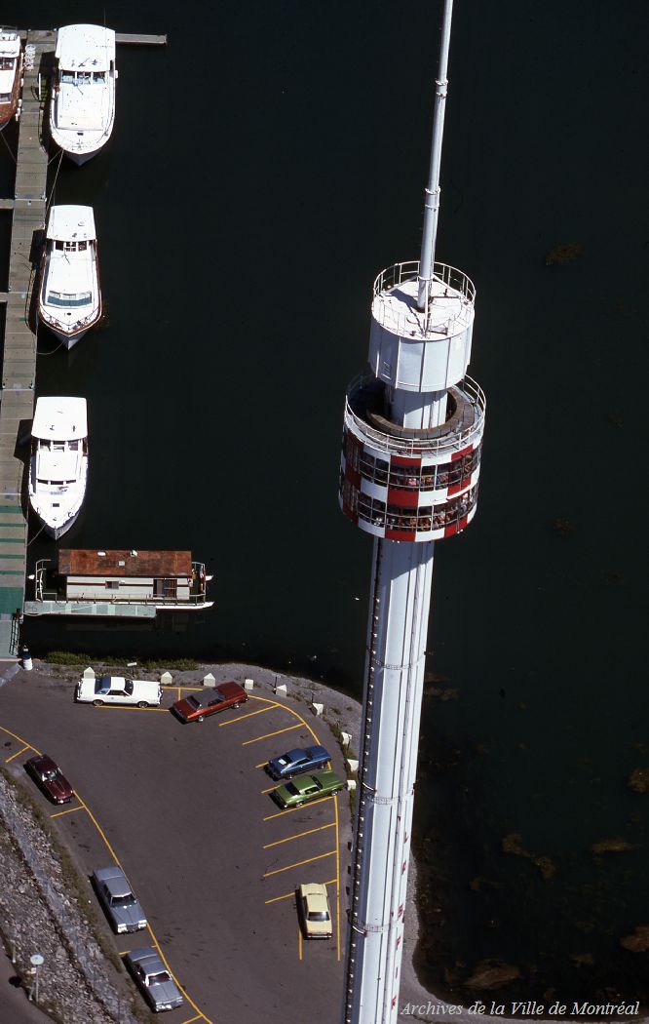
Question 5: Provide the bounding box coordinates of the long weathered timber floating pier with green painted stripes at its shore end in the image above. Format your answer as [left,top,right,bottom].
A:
[0,32,163,629]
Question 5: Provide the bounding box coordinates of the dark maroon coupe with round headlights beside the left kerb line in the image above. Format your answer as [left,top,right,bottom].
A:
[26,755,76,807]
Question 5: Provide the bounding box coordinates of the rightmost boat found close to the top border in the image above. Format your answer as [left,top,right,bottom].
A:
[48,4,118,166]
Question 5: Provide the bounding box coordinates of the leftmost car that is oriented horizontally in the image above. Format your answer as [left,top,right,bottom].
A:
[76,676,164,707]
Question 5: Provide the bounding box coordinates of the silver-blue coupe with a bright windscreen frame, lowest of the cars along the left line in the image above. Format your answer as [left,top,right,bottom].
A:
[128,948,181,1012]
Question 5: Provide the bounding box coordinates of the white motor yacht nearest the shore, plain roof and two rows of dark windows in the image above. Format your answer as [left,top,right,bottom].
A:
[26,398,90,543]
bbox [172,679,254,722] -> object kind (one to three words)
car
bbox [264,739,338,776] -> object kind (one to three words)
car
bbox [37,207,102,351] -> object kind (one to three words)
boat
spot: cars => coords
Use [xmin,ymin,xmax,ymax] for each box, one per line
[92,866,145,932]
[76,676,164,707]
[26,755,76,807]
[172,679,254,722]
[264,739,338,776]
[301,884,333,939]
[272,765,348,805]
[128,948,181,1012]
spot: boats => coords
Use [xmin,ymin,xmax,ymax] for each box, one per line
[48,4,118,166]
[26,398,90,543]
[28,549,213,613]
[0,15,24,139]
[37,207,102,351]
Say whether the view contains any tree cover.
No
